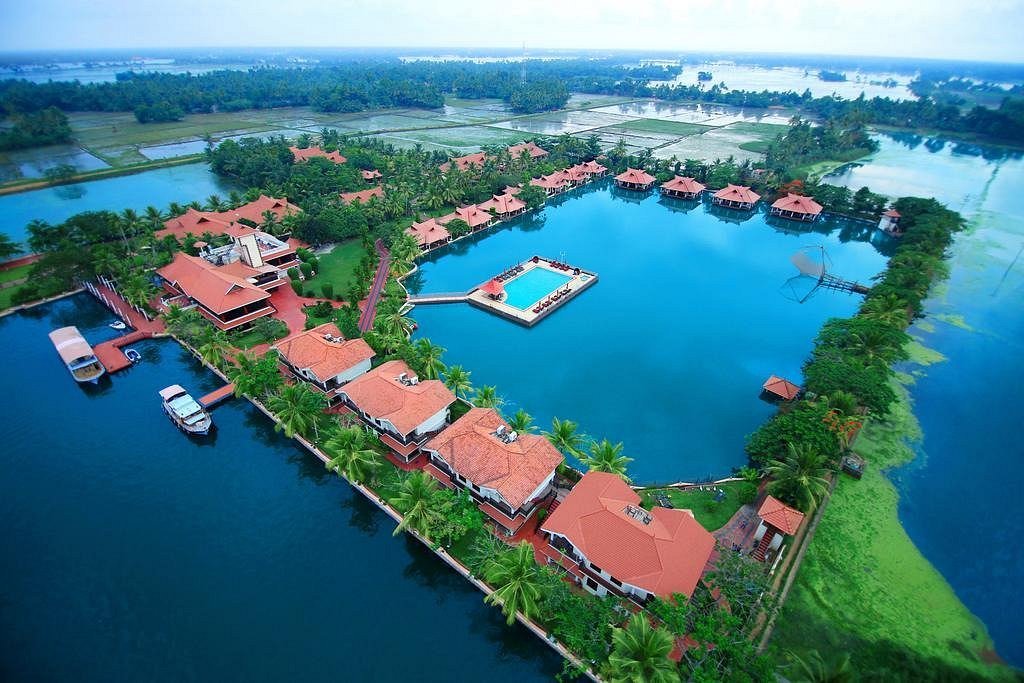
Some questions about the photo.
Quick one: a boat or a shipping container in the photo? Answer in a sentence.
The image shows a boat.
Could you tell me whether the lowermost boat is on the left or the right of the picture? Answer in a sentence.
The lowermost boat appears in the left half of the scene.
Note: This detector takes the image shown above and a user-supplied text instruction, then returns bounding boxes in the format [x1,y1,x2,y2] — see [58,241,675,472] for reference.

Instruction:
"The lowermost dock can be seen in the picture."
[199,384,237,409]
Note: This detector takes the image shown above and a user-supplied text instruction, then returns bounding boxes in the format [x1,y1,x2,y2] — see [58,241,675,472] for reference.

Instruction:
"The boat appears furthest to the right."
[156,384,213,436]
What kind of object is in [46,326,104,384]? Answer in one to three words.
vessel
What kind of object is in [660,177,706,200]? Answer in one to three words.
house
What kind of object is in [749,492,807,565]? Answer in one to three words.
building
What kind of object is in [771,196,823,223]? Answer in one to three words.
house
